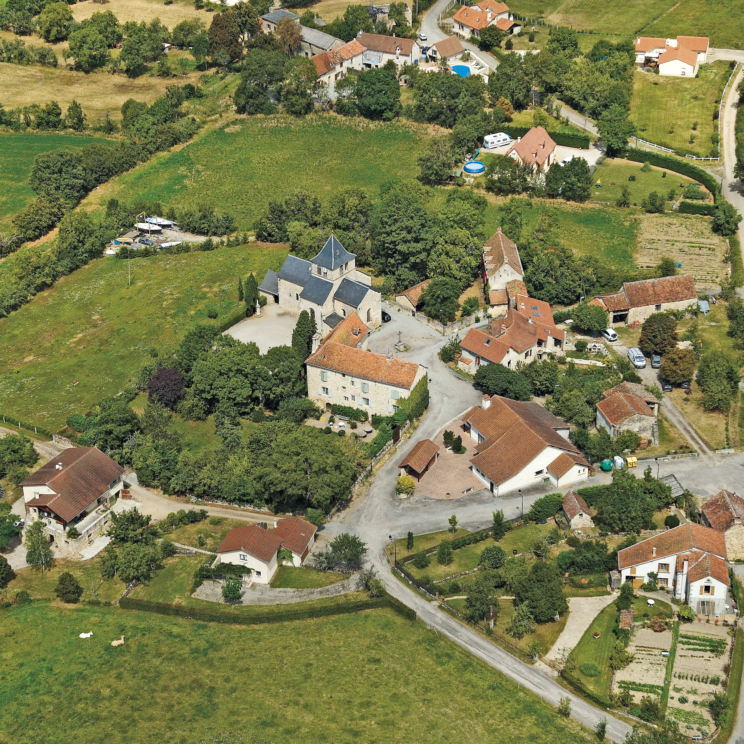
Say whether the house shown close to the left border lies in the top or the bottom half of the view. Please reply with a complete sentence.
The bottom half of the photo is where the house shown close to the left border is.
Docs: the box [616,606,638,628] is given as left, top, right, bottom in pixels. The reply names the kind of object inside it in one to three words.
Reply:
shed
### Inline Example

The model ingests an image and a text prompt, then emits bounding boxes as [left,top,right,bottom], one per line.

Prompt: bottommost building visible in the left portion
[215,514,318,584]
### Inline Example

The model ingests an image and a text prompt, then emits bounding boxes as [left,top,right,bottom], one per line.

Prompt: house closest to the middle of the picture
[305,310,428,425]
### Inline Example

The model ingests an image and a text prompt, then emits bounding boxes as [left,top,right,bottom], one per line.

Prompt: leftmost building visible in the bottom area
[11,445,138,557]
